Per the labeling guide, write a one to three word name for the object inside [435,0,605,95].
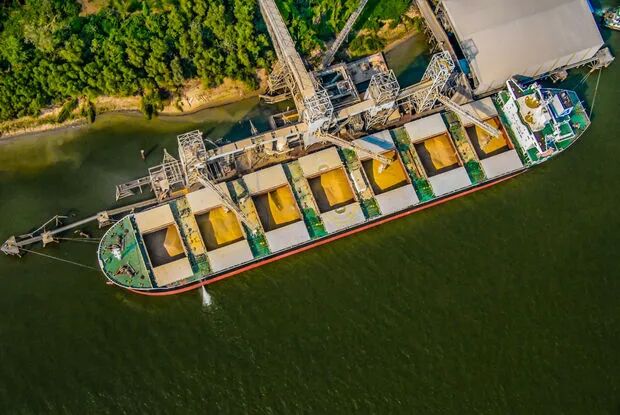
shed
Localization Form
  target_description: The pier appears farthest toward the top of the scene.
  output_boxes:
[287,66,364,115]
